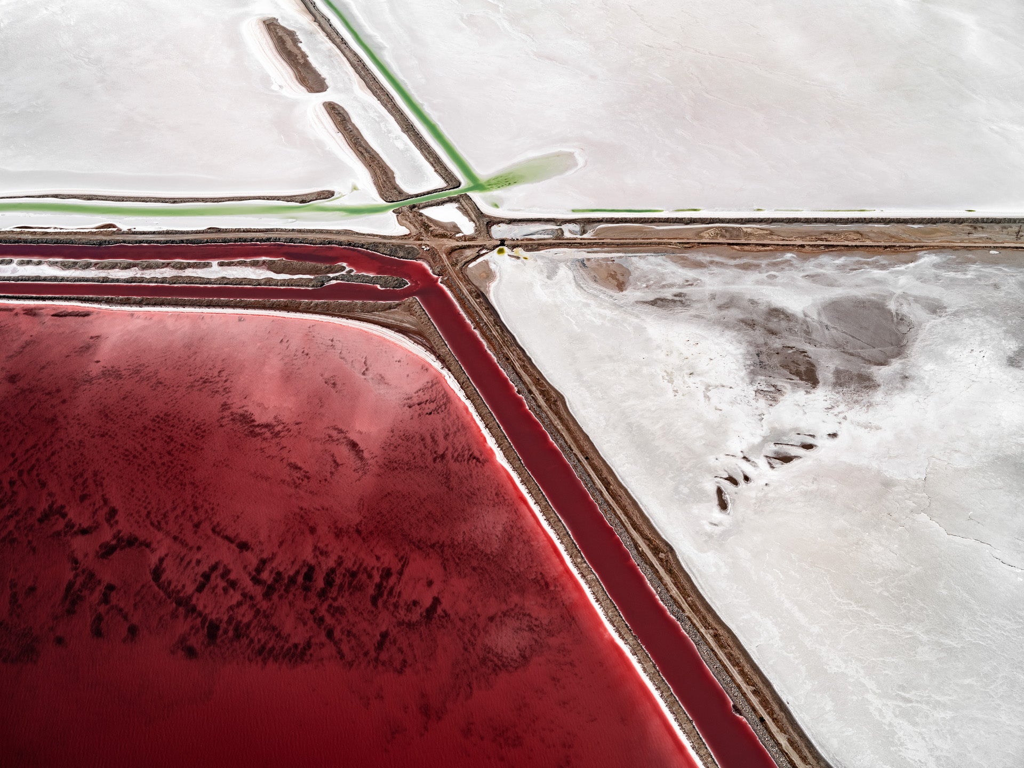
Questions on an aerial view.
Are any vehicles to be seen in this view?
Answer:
No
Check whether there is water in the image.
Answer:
Yes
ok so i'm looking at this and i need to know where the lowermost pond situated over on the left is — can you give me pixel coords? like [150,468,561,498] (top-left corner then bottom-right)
[0,304,698,768]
